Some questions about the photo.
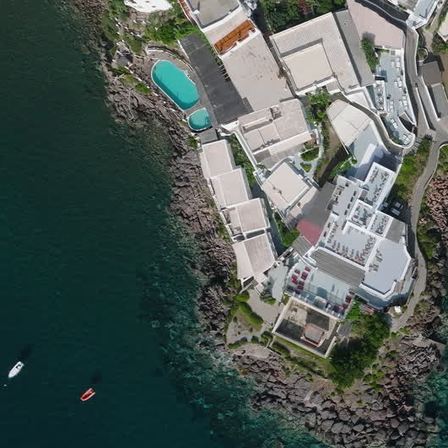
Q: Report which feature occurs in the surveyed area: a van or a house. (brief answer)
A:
house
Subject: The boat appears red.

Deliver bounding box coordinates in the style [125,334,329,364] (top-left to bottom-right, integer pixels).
[80,387,97,401]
